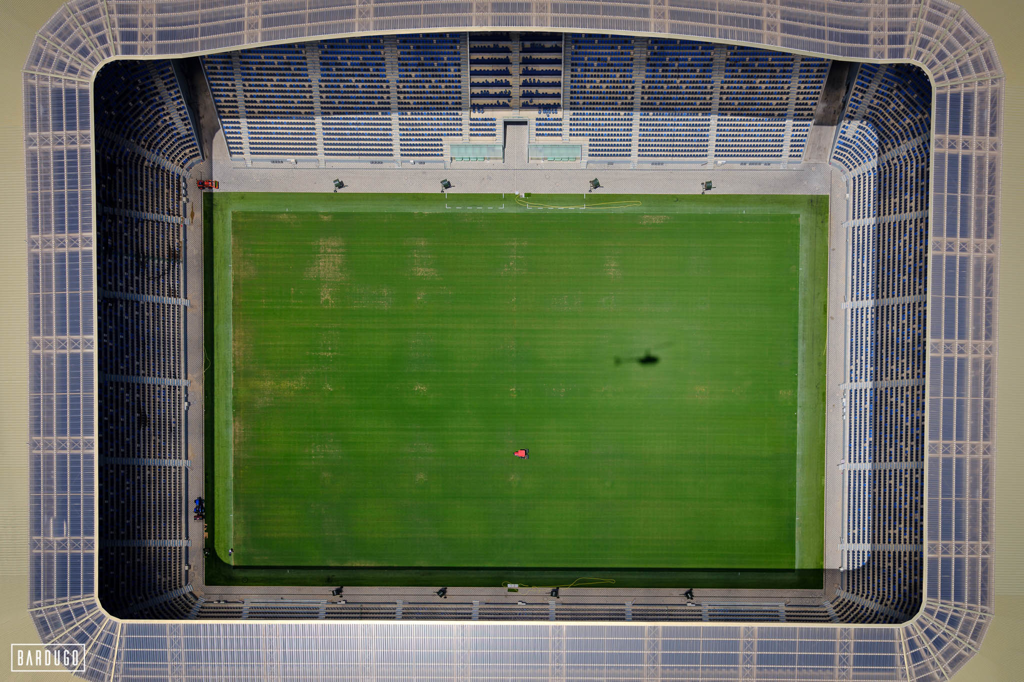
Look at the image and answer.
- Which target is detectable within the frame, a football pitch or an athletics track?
football pitch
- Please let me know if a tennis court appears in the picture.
No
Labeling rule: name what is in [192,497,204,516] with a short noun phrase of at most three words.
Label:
vehicle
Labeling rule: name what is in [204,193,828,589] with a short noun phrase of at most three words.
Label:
soccer field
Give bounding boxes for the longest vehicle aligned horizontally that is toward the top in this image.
[192,176,219,190]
